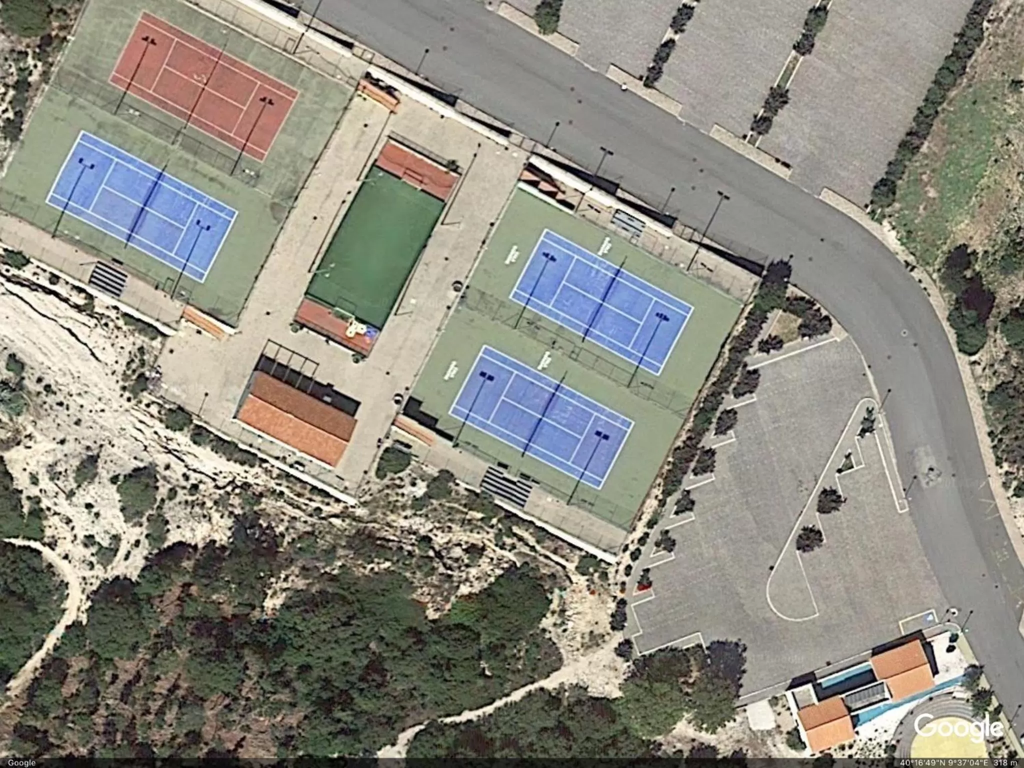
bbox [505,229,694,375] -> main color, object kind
blue tennis court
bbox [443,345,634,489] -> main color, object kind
blue tennis court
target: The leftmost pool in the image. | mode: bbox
[816,664,871,692]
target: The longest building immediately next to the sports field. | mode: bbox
[231,370,357,470]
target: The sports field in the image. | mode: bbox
[292,140,462,360]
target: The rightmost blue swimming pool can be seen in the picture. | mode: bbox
[850,675,966,727]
